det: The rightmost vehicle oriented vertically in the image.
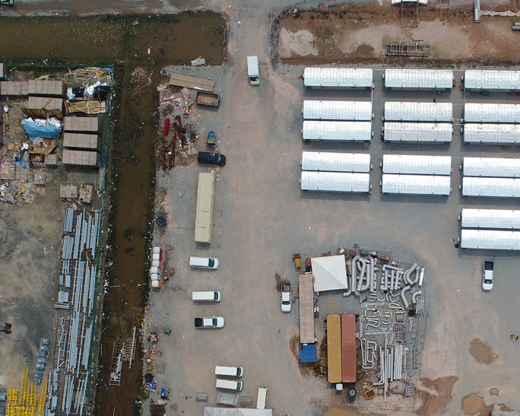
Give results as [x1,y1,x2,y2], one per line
[481,261,494,291]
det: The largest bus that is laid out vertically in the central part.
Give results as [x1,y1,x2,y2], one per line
[196,172,217,245]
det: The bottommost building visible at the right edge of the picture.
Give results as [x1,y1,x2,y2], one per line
[458,229,520,252]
